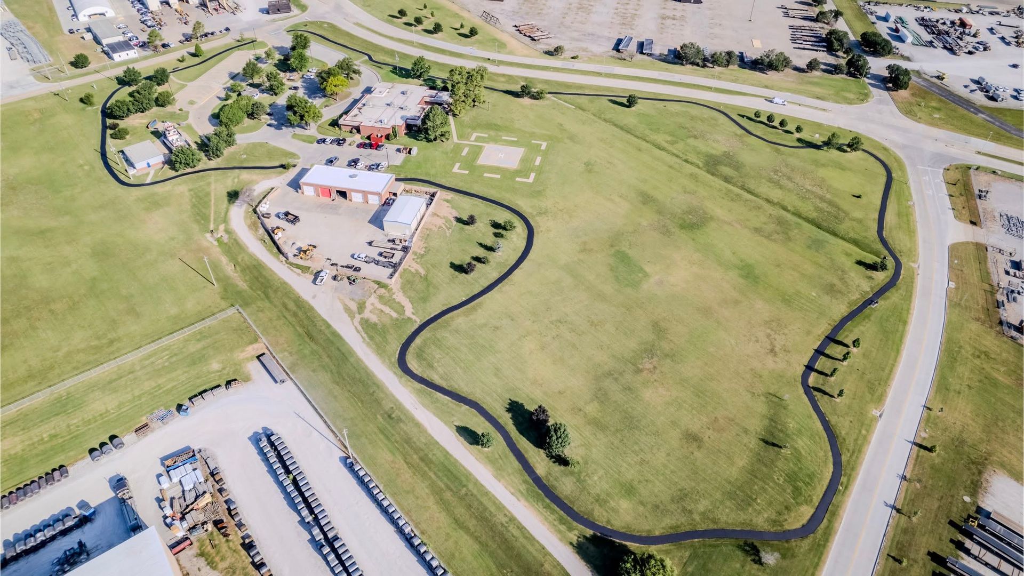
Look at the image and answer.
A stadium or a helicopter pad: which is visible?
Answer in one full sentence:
The one in the frame is a helicopter pad.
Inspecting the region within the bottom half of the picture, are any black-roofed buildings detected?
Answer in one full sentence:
No, the scene shows no black-roofed building within the bottom half of the picture.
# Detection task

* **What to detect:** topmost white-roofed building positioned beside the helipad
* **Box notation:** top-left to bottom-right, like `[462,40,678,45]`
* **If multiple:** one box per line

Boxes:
[339,82,452,139]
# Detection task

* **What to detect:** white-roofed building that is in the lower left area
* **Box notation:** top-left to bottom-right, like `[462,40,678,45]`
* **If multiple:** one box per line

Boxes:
[58,525,181,576]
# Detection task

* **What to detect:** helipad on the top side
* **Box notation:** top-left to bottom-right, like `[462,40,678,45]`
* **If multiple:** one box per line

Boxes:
[453,133,546,182]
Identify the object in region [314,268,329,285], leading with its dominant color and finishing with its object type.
white vehicle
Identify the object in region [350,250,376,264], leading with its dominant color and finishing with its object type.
white vehicle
